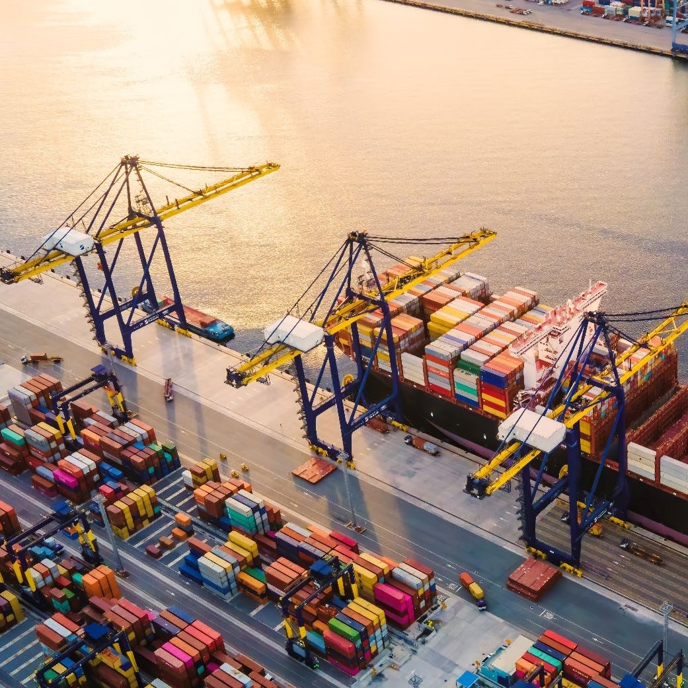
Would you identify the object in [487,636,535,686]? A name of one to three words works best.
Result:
building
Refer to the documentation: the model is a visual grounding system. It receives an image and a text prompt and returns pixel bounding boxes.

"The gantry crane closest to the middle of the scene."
[221,221,500,467]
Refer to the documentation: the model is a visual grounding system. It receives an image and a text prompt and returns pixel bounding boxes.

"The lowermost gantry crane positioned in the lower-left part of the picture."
[31,619,144,688]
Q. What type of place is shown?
port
